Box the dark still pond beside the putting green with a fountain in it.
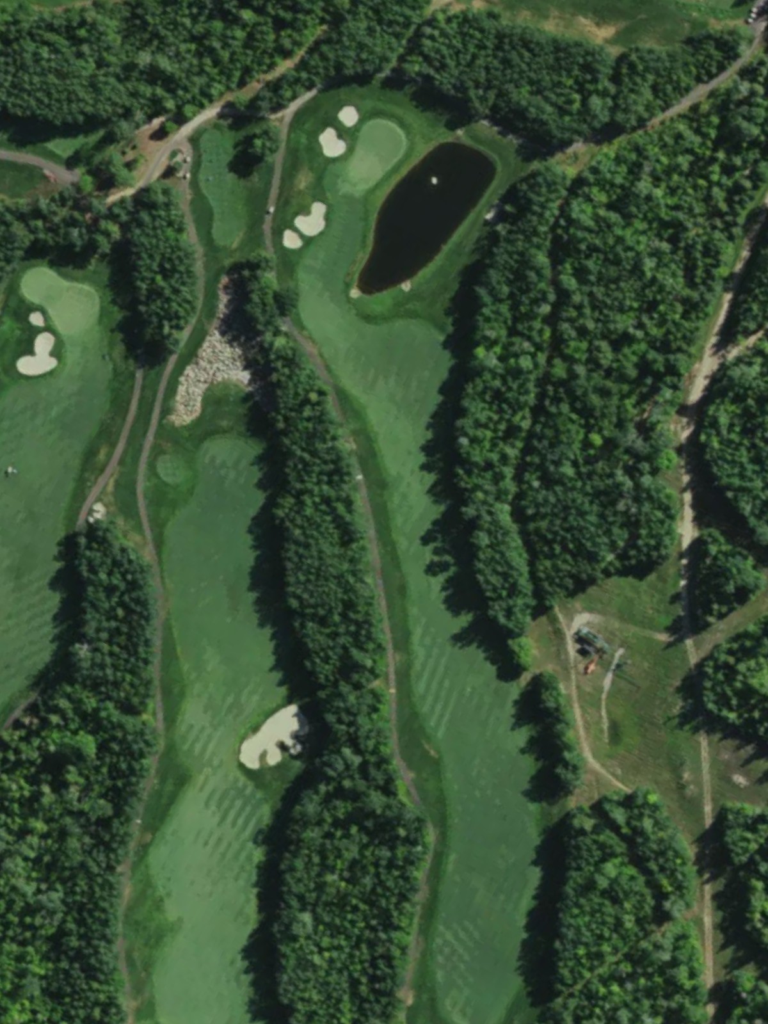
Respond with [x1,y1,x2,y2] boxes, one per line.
[357,141,497,294]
